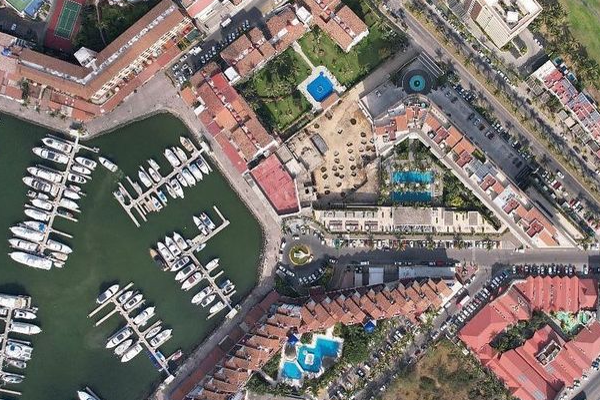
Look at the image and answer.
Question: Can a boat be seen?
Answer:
Yes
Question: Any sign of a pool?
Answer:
Yes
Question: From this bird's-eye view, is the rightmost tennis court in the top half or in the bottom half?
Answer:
top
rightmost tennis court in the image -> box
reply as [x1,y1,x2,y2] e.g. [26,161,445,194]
[44,0,85,49]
